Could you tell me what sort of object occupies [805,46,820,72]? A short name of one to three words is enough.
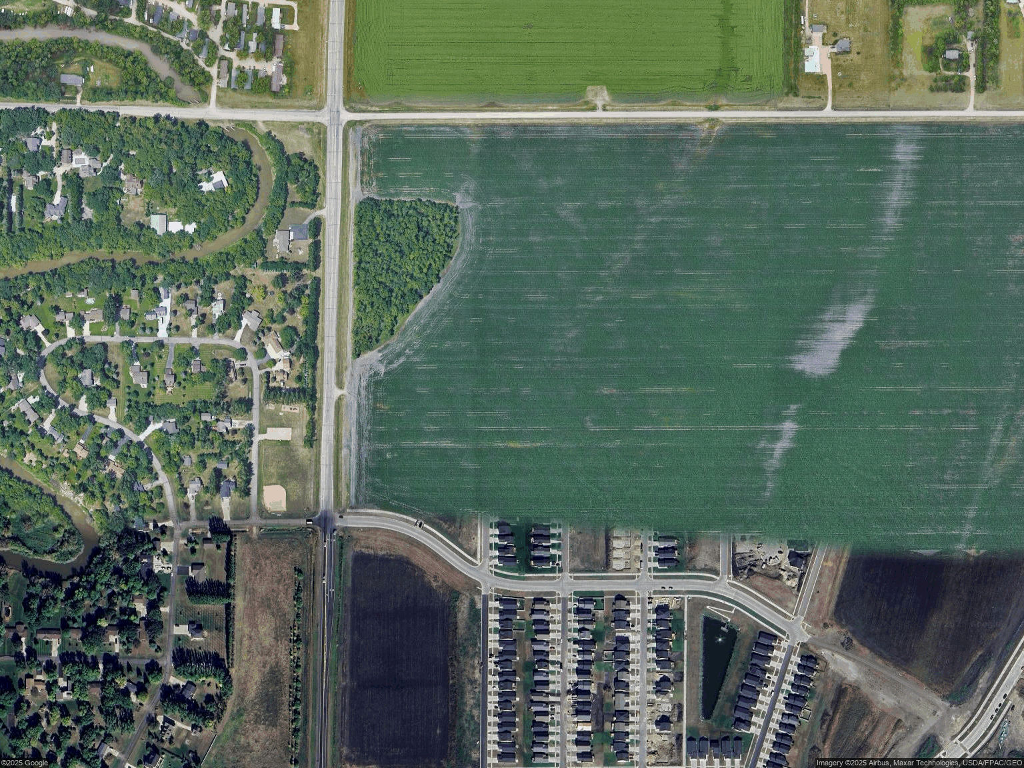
building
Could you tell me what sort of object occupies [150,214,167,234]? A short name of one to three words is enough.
building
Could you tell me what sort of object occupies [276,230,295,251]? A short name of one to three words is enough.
house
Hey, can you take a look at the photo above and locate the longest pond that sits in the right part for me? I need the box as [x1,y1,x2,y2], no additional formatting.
[702,614,737,721]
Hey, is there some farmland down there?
Yes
